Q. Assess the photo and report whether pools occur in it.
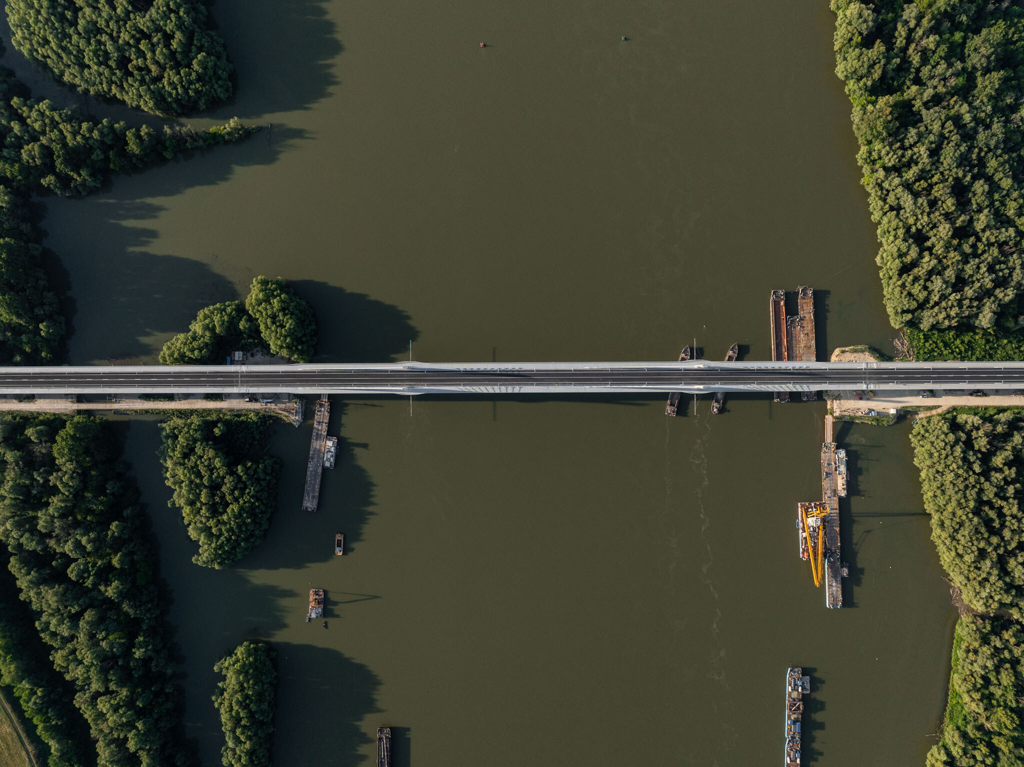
No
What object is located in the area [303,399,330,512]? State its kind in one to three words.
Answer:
pier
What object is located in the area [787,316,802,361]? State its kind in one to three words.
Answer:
ship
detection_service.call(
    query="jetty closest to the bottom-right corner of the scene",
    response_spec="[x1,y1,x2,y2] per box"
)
[824,555,842,608]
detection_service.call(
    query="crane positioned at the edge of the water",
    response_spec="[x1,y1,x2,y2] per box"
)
[802,506,829,587]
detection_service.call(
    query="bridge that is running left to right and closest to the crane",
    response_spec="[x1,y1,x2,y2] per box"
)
[0,360,1024,396]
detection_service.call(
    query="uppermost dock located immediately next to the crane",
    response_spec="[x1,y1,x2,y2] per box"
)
[820,443,841,554]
